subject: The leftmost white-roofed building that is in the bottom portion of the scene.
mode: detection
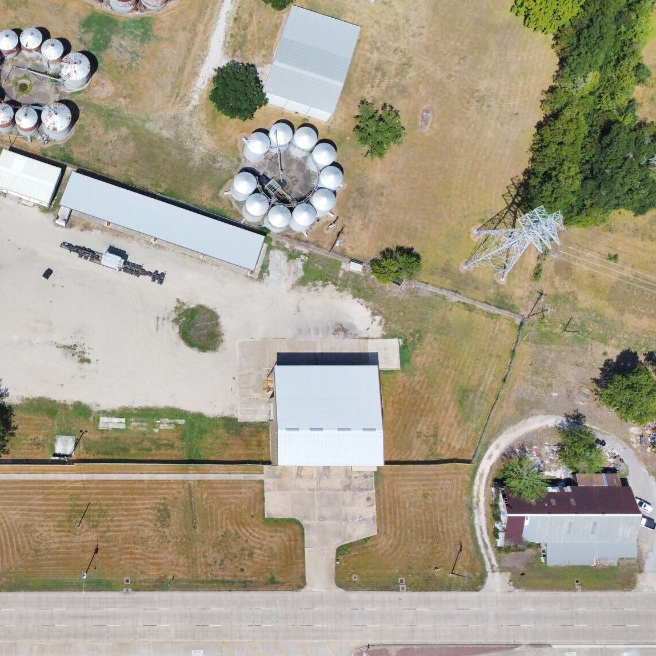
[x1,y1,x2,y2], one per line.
[270,366,385,474]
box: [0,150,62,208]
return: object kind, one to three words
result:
shed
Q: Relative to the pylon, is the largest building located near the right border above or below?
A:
below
